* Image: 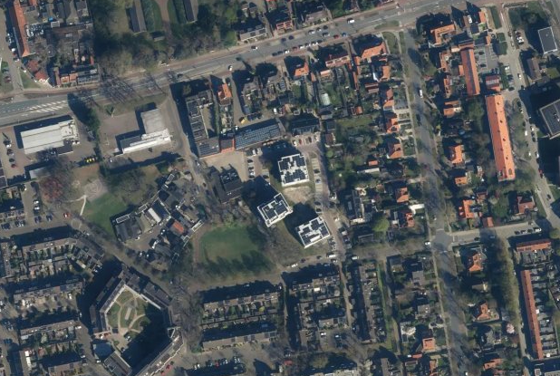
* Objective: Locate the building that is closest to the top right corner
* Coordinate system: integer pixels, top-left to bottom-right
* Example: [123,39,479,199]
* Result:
[537,27,557,57]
